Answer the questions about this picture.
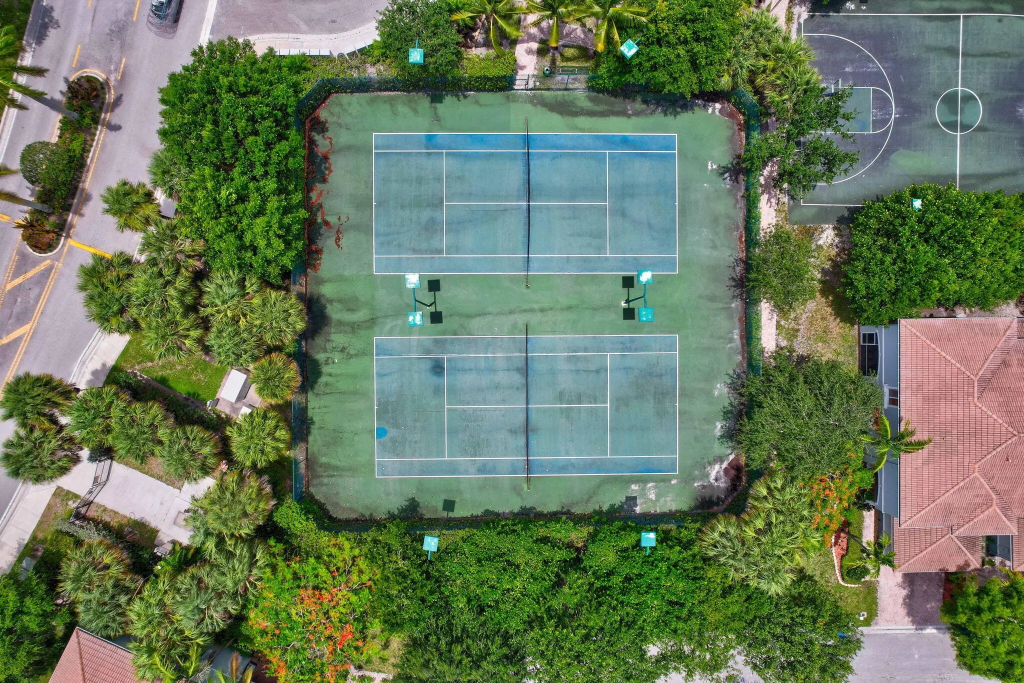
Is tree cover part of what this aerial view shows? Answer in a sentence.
Yes, tree cover can be seen from above here.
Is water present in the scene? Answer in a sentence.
No, no water is visible.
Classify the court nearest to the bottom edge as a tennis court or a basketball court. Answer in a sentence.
From above, the court nearest to the bottom edge can be identified as a tennis court.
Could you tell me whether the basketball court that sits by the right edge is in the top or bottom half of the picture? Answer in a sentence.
The basketball court that sits by the right edge sits in the top half of the picture.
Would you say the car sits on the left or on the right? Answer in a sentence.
The car sits on the left side.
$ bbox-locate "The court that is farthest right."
[789,0,1024,223]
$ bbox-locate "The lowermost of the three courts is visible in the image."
[374,334,679,477]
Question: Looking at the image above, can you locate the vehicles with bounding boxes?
[148,0,183,28]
